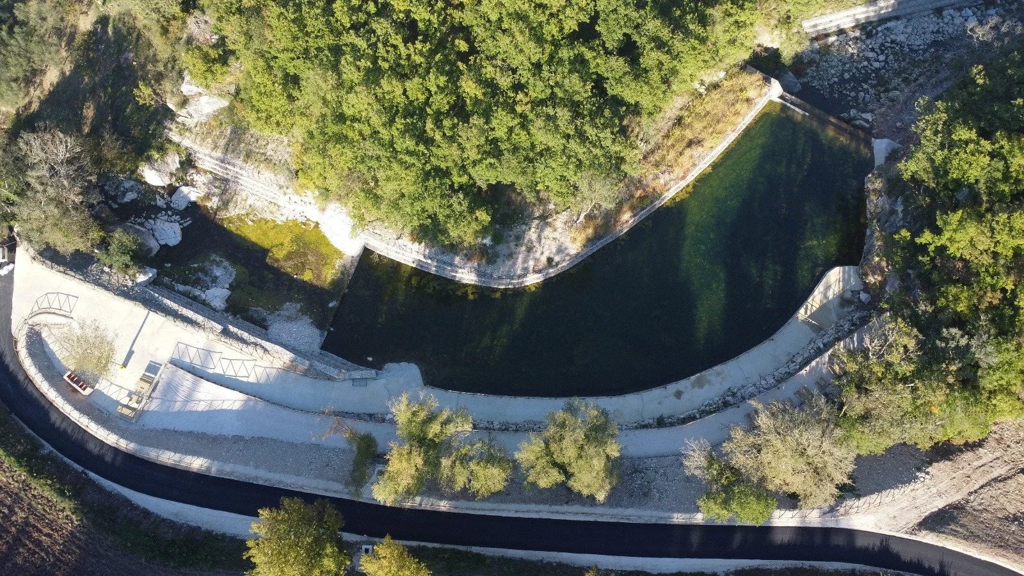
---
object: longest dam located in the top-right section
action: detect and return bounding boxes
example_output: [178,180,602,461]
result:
[776,87,877,141]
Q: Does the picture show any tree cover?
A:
Yes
